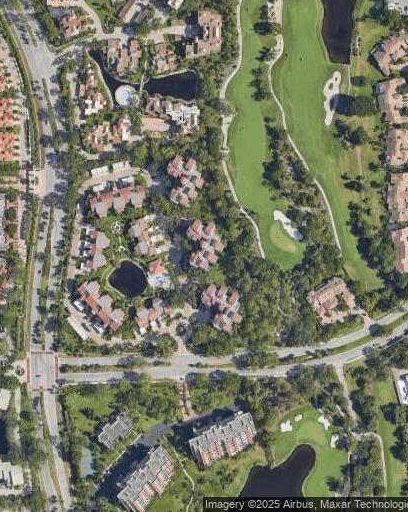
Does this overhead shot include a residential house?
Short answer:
Yes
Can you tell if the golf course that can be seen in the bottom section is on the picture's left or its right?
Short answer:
right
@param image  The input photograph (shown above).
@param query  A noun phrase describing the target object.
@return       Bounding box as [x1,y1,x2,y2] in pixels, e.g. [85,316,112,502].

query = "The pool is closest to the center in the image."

[147,275,171,289]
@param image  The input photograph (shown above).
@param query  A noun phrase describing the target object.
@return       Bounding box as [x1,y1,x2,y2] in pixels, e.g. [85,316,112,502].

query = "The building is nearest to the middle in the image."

[184,217,225,274]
